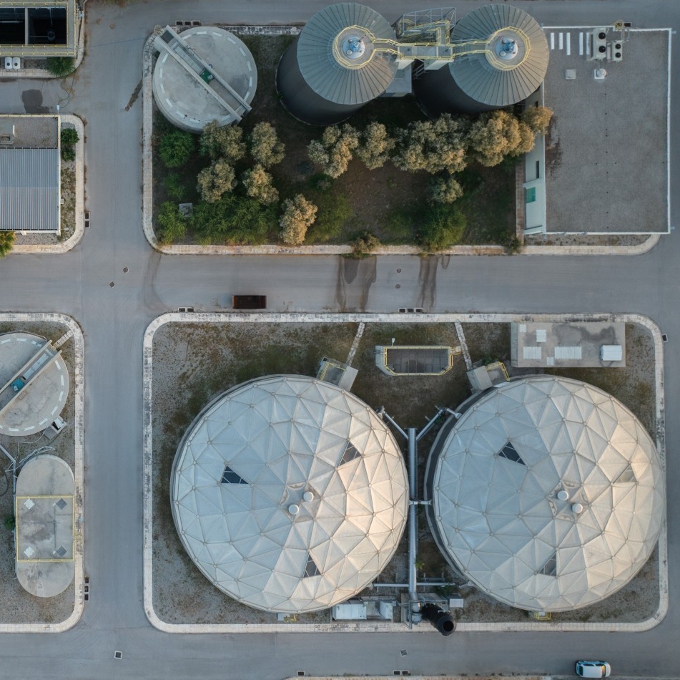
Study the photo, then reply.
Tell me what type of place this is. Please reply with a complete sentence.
What you see here is an industrial area.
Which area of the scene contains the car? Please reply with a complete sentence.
The car is in the bottom right part of the image.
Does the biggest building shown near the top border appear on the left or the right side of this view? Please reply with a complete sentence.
The biggest building shown near the top border sits on the right side.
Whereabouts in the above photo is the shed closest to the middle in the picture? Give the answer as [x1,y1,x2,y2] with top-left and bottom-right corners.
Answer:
[316,358,358,392]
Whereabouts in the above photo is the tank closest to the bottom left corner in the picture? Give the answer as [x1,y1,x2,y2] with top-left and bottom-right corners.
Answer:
[17,455,75,597]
